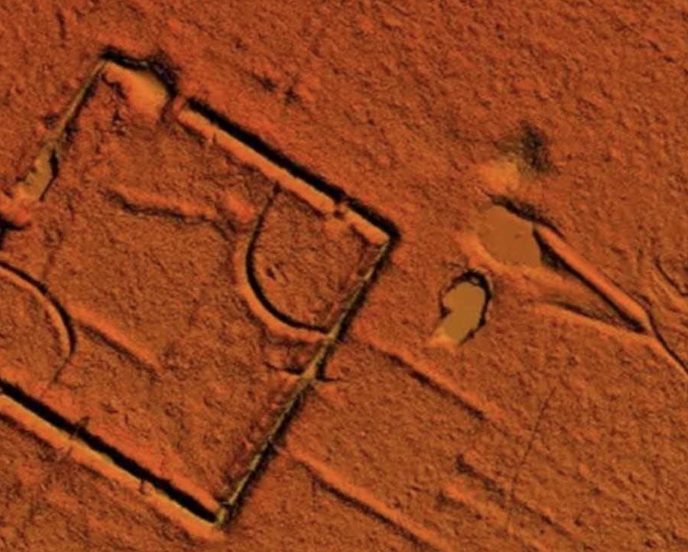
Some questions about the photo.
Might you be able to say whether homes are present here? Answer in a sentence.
No, the scene contains no home.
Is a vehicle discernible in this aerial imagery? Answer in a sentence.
No, there isn't any vehicle down there.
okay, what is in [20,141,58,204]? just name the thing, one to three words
pond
